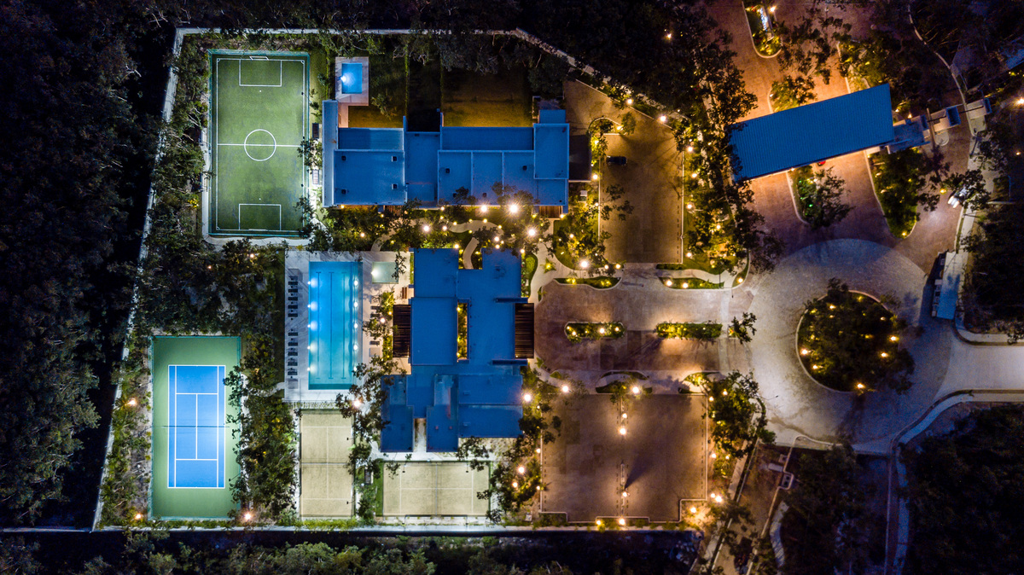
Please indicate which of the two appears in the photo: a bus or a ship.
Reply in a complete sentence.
The one in the frame is a bus.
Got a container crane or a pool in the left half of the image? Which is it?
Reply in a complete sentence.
The one visible in the left half of the image is a pool.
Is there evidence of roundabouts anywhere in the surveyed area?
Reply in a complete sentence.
Yes, a roundabout can be made out from above.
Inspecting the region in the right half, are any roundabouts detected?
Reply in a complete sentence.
Yes, a roundabout appears in the right half.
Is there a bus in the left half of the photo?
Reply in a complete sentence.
No, I see no bus in the left half of the photo.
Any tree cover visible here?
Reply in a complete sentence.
Yes, tree cover can be seen from above here.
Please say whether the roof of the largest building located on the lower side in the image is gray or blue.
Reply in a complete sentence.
In this view, the roof of the largest building located on the lower side is blue.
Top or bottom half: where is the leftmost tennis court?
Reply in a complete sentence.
The bottom half of the photo is where the leftmost tennis court is.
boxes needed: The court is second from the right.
[301,413,353,517]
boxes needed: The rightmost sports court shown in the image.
[384,463,489,515]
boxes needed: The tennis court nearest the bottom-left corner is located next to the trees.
[153,337,236,517]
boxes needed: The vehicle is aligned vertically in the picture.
[932,251,964,320]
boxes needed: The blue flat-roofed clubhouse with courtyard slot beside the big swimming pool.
[381,248,534,452]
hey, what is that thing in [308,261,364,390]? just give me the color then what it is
blue swimming pool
